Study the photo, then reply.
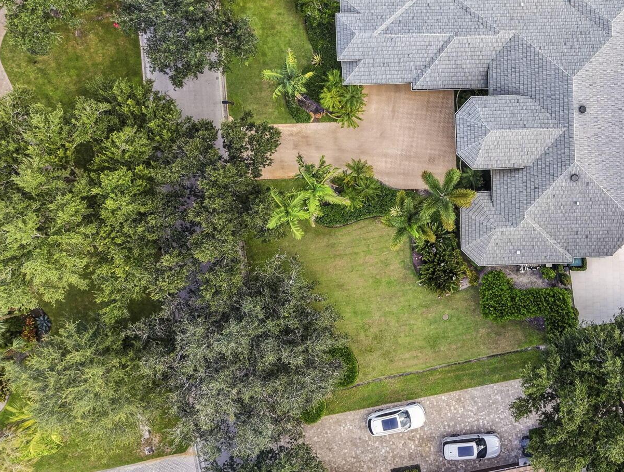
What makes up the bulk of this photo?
trees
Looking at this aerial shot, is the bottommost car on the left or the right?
right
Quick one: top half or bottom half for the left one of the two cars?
bottom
